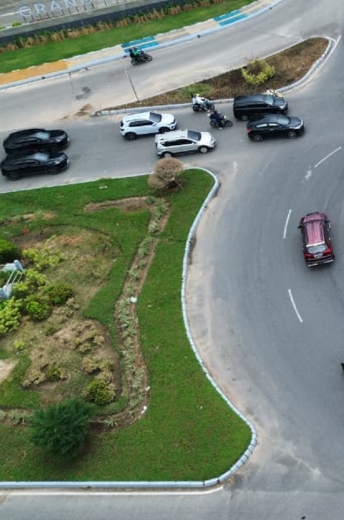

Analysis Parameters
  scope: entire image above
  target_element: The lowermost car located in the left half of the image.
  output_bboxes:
[0,148,67,180]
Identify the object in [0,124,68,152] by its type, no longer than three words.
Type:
car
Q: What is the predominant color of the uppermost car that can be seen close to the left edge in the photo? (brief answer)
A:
black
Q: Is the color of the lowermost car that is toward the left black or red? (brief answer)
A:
black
